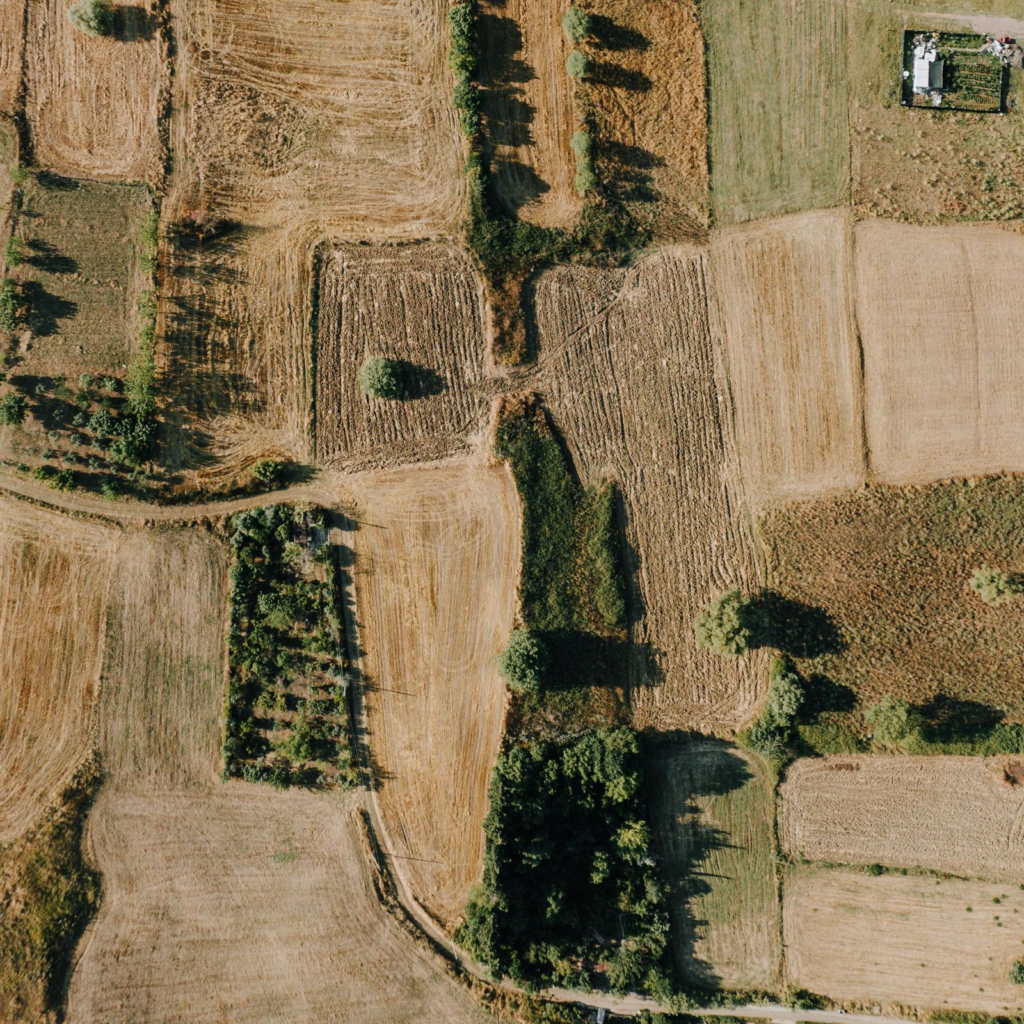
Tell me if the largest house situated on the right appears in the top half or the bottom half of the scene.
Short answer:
top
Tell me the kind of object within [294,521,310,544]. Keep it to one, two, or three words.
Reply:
shed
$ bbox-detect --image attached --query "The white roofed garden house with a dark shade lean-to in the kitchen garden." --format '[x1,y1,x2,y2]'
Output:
[912,60,941,92]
